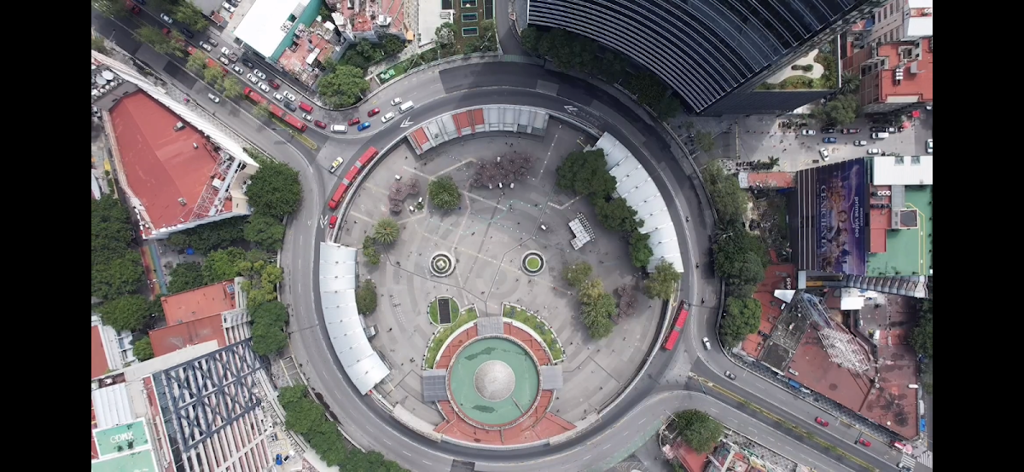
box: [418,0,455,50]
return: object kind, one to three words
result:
building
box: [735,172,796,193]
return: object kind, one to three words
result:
house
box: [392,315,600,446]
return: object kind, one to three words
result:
building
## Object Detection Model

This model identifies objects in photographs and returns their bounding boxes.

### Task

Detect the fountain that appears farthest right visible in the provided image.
[520,250,545,275]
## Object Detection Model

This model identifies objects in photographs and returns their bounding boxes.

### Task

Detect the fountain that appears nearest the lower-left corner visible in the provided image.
[429,251,455,277]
